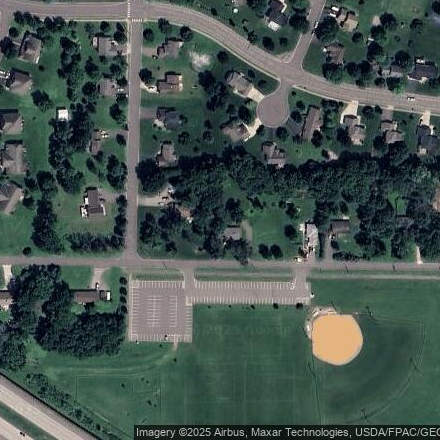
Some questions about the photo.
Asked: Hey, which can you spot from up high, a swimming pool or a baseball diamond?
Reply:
baseball diamond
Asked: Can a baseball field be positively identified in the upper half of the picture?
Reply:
No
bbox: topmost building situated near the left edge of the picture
[17,34,41,62]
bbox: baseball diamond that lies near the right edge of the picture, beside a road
[304,305,426,424]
